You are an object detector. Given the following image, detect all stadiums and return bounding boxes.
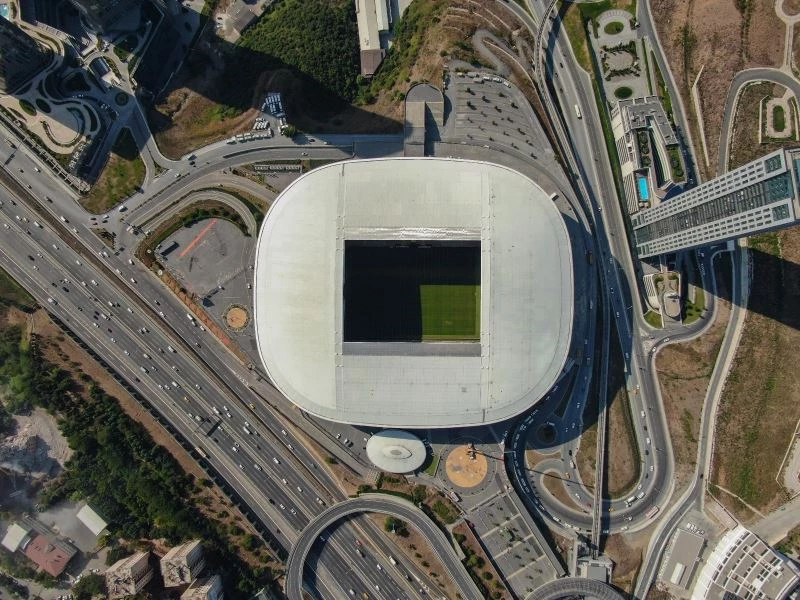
[254,157,574,429]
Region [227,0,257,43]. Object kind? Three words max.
house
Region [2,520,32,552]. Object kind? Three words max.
shed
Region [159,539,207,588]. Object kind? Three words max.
building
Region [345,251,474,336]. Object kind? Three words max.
sports field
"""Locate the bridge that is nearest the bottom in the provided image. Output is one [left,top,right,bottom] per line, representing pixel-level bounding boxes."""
[283,495,487,600]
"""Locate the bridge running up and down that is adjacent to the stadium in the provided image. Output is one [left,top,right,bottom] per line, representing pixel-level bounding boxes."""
[534,0,609,556]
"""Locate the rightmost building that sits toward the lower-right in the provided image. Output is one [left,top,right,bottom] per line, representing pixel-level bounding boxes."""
[684,522,800,600]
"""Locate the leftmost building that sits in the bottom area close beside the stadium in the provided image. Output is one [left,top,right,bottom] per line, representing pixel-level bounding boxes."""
[366,429,427,473]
